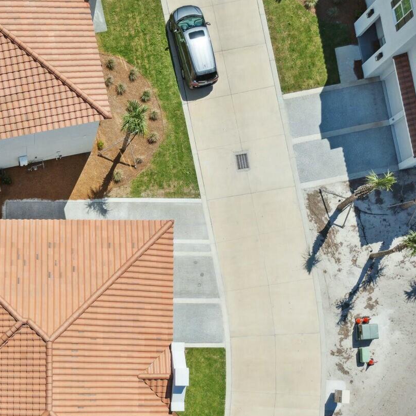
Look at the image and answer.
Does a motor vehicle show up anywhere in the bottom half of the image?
No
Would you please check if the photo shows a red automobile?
No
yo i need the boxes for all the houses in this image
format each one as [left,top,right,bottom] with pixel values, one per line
[0,0,114,171]
[0,216,195,416]
[357,0,416,169]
